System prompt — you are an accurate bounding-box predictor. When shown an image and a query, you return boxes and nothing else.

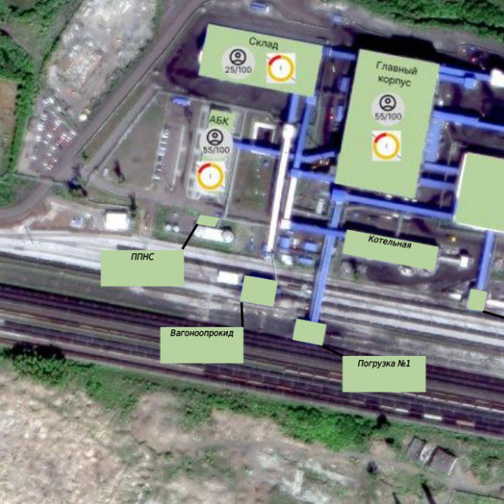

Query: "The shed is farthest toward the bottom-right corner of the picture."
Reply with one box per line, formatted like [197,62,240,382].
[427,446,456,474]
